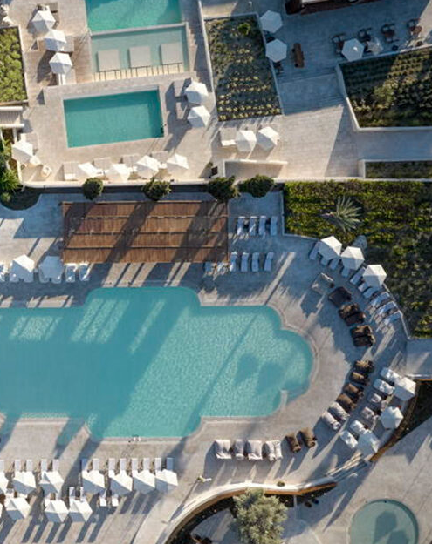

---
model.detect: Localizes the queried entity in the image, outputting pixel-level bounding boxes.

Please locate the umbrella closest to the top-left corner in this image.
[32,12,54,33]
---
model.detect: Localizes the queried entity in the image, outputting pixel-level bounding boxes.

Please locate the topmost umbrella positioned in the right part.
[259,12,282,34]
